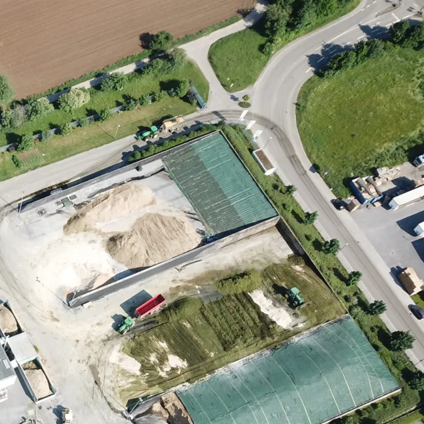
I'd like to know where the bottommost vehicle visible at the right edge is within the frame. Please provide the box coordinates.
[409,303,424,319]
